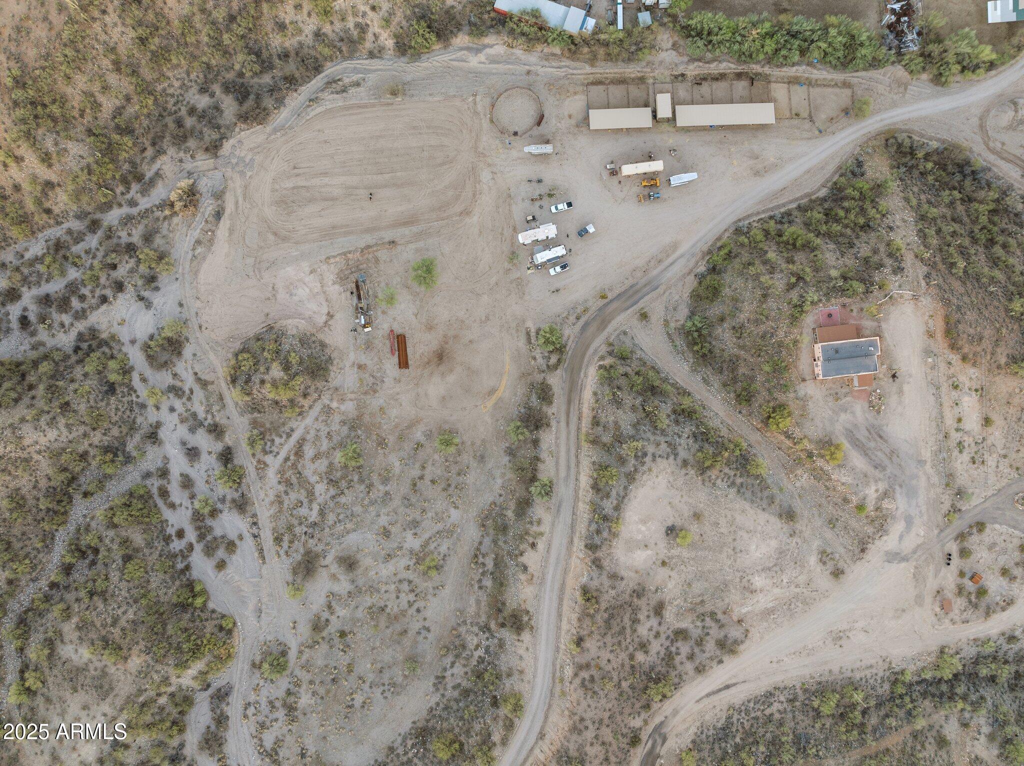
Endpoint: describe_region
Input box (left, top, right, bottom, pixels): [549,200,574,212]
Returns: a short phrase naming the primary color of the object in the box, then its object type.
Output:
white vehicle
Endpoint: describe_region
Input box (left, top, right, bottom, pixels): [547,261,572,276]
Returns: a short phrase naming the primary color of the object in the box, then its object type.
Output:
white vehicle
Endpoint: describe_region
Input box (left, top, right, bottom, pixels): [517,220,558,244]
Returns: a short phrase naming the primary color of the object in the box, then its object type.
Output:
white camper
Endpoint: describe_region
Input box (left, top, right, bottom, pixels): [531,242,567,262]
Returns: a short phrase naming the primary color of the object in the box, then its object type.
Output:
white camper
